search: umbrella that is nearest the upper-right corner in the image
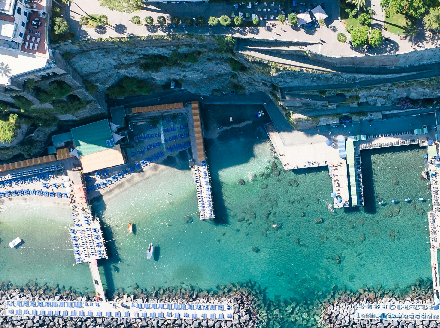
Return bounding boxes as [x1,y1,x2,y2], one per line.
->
[311,4,327,19]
